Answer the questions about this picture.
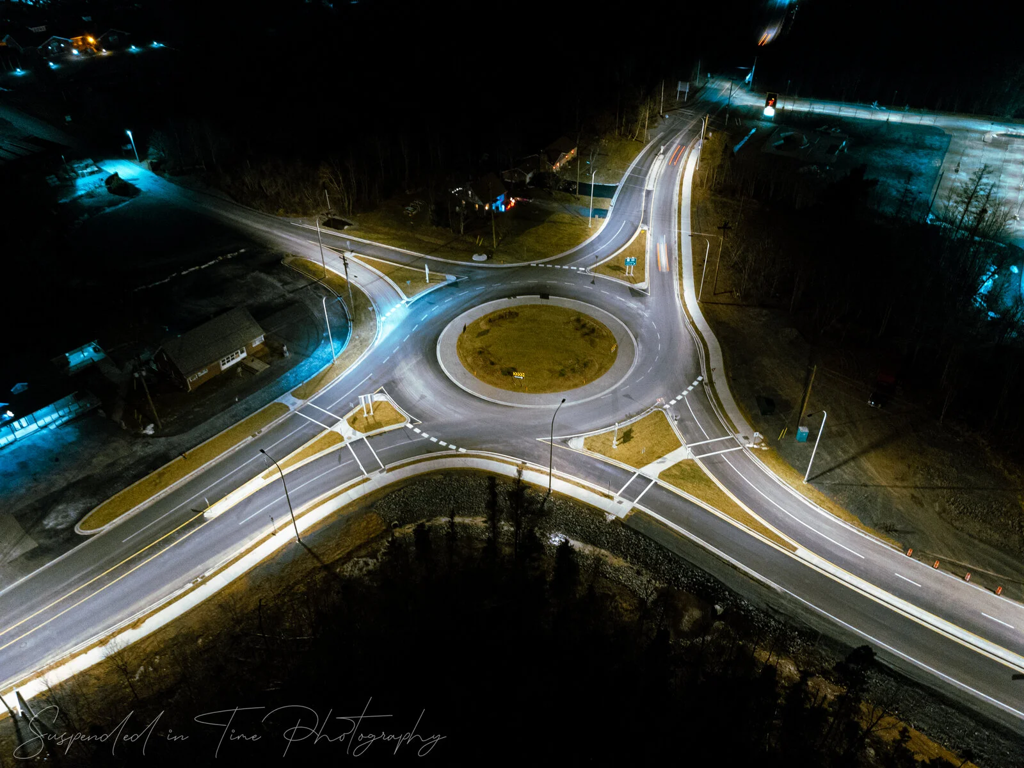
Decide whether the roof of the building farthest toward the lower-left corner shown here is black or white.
black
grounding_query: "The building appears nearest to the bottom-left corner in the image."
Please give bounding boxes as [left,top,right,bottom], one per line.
[0,346,88,460]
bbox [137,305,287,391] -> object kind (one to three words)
house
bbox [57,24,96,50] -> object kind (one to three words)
house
